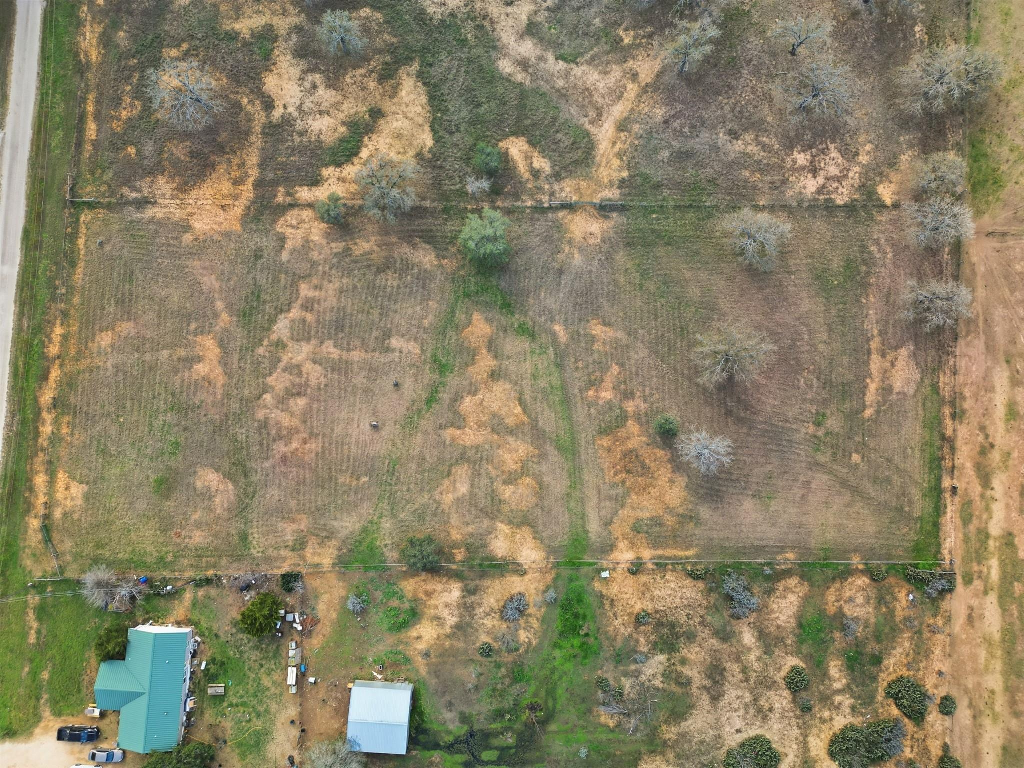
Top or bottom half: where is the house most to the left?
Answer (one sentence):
Seen from above, the house most to the left lies in the bottom half of the view.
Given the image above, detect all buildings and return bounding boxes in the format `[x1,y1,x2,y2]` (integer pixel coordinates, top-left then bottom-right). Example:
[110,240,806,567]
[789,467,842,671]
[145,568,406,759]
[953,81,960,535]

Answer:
[348,672,414,754]
[94,623,193,755]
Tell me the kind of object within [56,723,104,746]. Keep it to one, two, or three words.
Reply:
truck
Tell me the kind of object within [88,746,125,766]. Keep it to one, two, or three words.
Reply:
car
